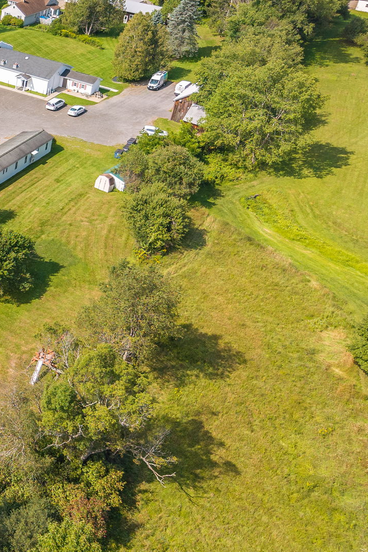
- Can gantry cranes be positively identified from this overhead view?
No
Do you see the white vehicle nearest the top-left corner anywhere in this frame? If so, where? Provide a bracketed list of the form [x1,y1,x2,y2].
[47,95,65,108]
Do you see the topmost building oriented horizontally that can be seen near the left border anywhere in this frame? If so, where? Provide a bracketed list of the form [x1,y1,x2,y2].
[1,0,60,26]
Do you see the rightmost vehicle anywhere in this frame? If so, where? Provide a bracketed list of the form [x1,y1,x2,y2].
[178,74,194,90]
